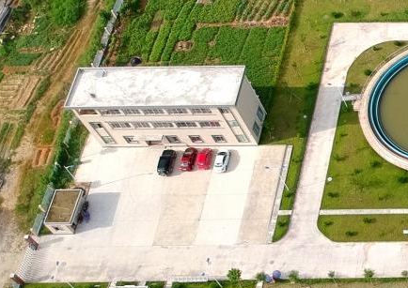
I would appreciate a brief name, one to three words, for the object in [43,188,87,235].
building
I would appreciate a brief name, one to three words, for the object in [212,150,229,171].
car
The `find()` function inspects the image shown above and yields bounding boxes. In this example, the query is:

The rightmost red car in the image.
[194,147,212,168]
